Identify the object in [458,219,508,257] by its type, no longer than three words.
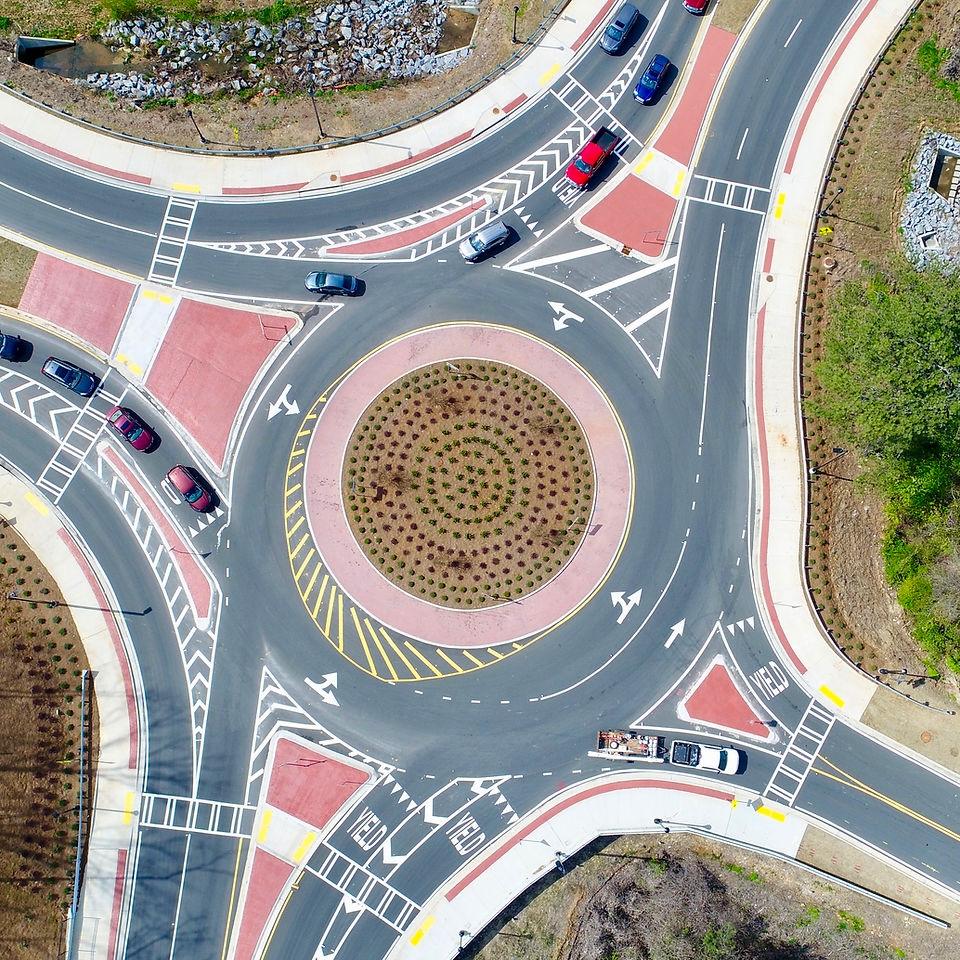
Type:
car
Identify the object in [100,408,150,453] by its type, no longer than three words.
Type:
car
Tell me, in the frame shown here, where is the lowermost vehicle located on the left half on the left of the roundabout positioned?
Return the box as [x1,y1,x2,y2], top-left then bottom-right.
[162,466,208,513]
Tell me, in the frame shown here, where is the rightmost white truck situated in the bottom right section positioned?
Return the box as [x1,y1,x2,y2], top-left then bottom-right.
[670,742,742,775]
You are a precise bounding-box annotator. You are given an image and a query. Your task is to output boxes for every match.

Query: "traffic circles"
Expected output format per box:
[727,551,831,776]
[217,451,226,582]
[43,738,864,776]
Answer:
[206,238,746,779]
